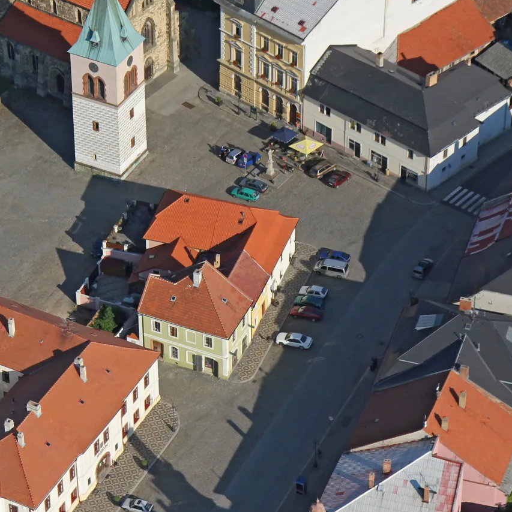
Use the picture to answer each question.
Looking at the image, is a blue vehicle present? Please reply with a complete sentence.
Yes, there's a blue vehicle here.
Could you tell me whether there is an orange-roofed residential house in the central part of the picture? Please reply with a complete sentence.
Yes, looking in the central part of the picture, one can make out an orange-roofed residential house.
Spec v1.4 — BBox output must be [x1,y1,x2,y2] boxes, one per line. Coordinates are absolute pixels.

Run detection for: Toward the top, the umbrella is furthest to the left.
[267,128,302,152]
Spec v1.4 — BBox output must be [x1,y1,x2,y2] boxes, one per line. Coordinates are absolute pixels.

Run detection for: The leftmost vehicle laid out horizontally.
[120,496,156,512]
